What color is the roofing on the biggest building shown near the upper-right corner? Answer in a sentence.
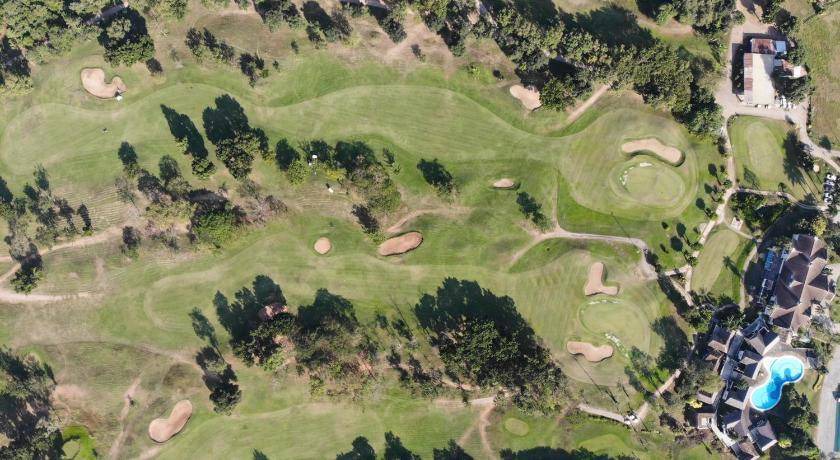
The roof over the biggest building shown near the upper-right corner appears white.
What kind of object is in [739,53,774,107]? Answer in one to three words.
building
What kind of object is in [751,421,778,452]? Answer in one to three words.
house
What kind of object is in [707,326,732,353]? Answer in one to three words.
house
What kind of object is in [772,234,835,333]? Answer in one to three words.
building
